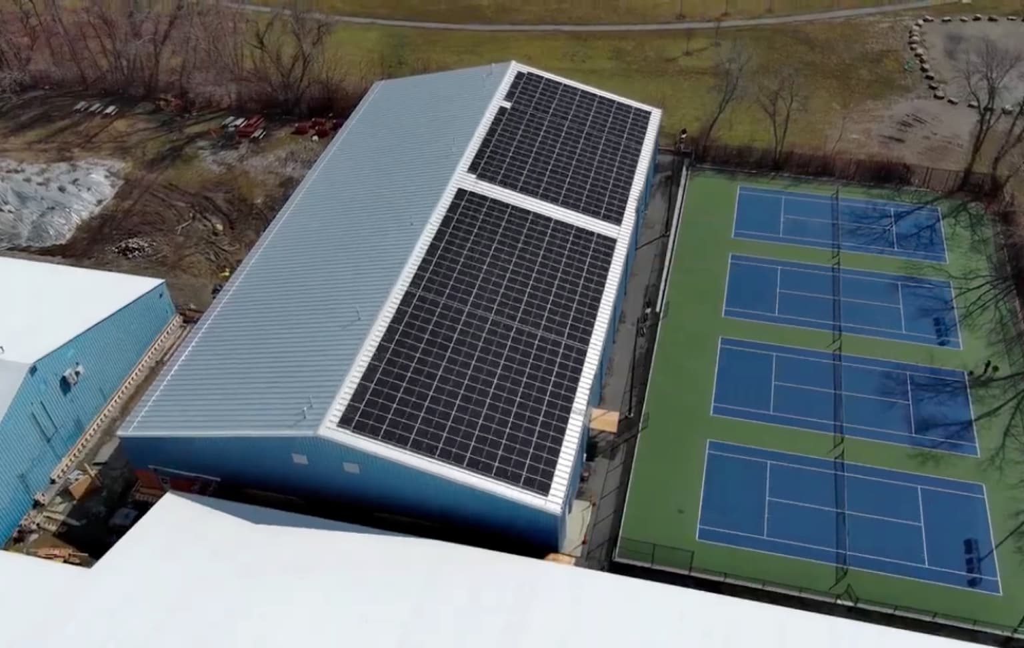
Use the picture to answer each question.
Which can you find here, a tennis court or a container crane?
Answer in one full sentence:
The image shows a tennis court.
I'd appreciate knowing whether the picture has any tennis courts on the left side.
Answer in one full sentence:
No, I see no tennis court on the left side.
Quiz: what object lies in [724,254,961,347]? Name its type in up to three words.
tennis court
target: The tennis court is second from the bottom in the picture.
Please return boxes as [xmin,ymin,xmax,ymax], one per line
[713,337,978,455]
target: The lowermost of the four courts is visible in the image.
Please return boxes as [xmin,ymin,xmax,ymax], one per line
[698,440,1001,592]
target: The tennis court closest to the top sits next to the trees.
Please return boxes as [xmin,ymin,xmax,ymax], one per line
[734,186,947,262]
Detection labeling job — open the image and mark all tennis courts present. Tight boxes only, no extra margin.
[724,254,961,347]
[713,337,978,455]
[734,186,947,262]
[698,440,1001,592]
